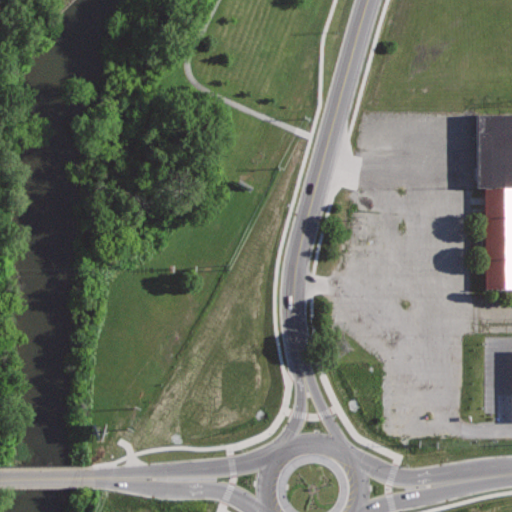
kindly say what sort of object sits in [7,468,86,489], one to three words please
bridge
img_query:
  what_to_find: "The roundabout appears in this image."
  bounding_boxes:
[218,392,406,512]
